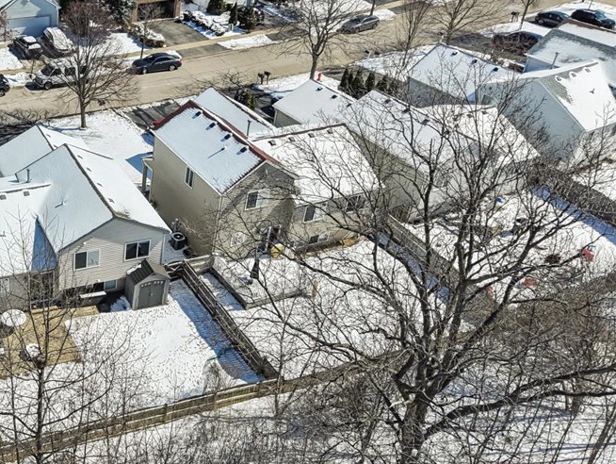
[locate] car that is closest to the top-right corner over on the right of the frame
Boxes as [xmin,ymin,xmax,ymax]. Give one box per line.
[567,6,616,28]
